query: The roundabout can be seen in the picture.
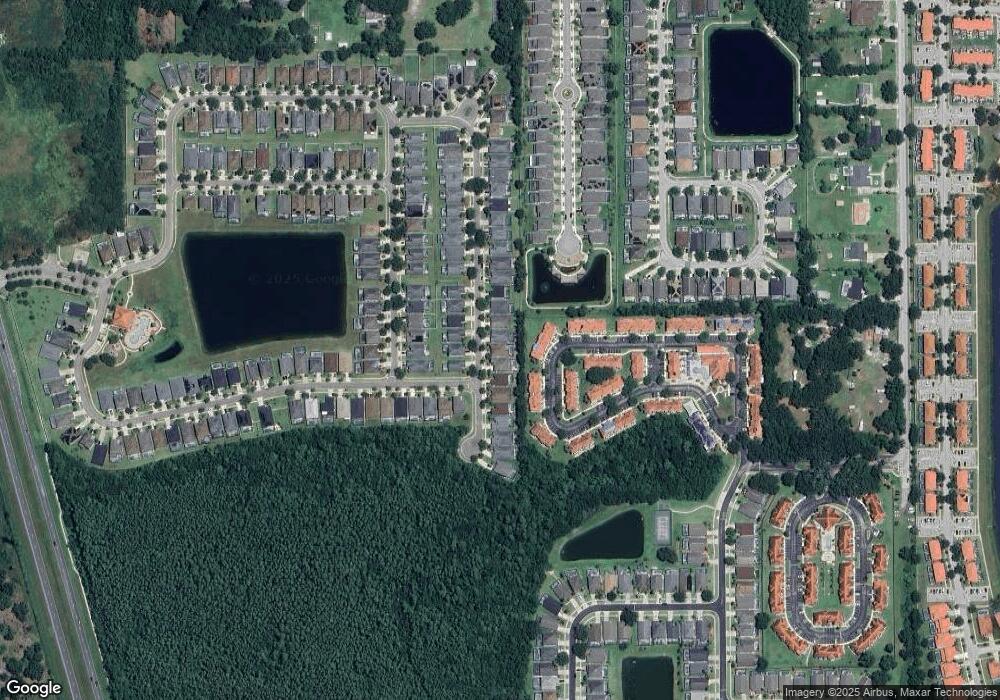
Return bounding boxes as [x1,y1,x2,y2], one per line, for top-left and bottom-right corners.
[553,73,581,111]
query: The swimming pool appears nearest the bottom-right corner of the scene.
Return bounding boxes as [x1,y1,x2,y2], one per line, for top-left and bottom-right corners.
[817,526,838,564]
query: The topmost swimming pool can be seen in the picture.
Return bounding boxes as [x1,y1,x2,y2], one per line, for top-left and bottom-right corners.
[124,310,161,350]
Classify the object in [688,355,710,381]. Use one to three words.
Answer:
swimming pool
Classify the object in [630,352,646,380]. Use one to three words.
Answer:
building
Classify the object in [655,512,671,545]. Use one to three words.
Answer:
sports court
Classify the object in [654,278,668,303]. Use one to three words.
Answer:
house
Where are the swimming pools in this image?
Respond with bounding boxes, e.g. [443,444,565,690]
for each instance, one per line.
[688,355,710,381]
[817,526,838,564]
[124,310,161,350]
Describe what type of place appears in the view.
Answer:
residential area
